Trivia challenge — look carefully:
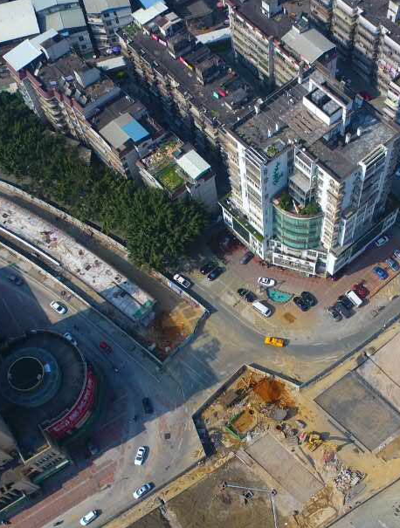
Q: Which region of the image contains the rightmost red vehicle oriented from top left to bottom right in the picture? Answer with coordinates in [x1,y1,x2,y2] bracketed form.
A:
[352,281,369,297]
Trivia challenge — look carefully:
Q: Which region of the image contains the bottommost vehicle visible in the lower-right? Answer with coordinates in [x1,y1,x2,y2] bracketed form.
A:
[303,430,334,454]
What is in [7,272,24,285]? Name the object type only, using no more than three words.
vehicle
